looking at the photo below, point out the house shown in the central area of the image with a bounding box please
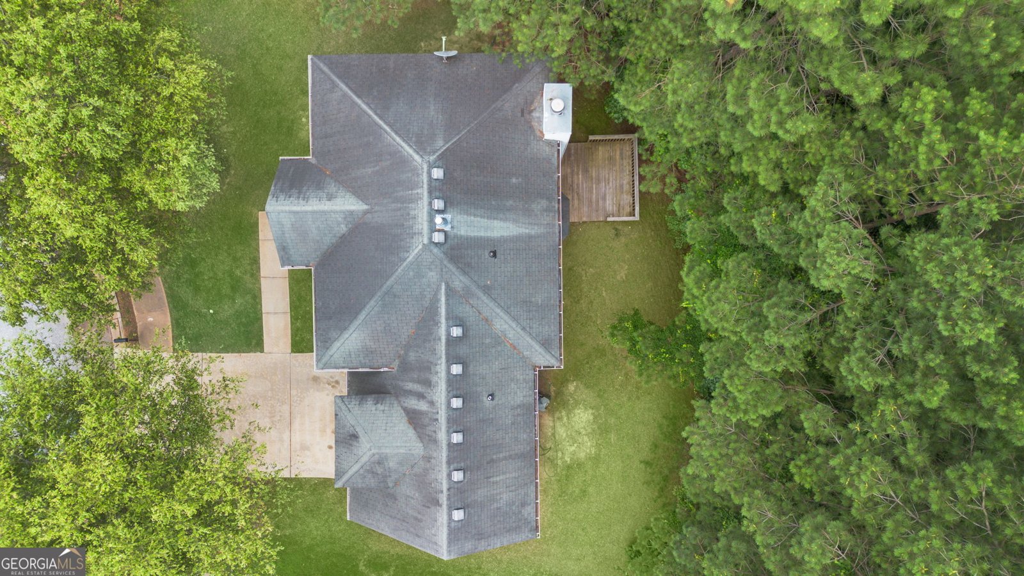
[266,51,573,560]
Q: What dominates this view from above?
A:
trees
